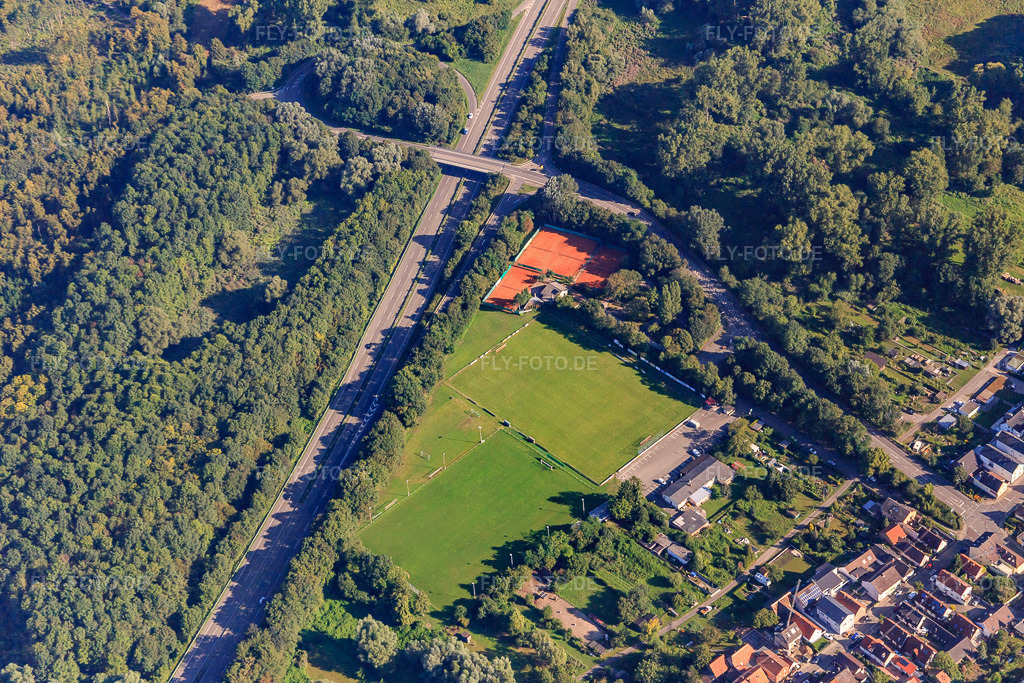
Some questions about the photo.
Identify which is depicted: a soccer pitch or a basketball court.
soccer pitch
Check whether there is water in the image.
No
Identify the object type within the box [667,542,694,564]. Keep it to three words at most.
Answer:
shed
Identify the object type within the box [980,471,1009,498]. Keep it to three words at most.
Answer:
house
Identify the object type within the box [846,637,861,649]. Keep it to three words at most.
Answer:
vehicle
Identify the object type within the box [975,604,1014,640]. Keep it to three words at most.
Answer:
house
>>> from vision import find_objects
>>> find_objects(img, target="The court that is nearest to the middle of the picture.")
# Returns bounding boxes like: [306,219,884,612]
[485,266,546,311]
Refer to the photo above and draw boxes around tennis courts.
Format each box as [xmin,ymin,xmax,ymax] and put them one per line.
[518,230,571,272]
[546,237,599,280]
[575,247,627,288]
[485,266,546,311]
